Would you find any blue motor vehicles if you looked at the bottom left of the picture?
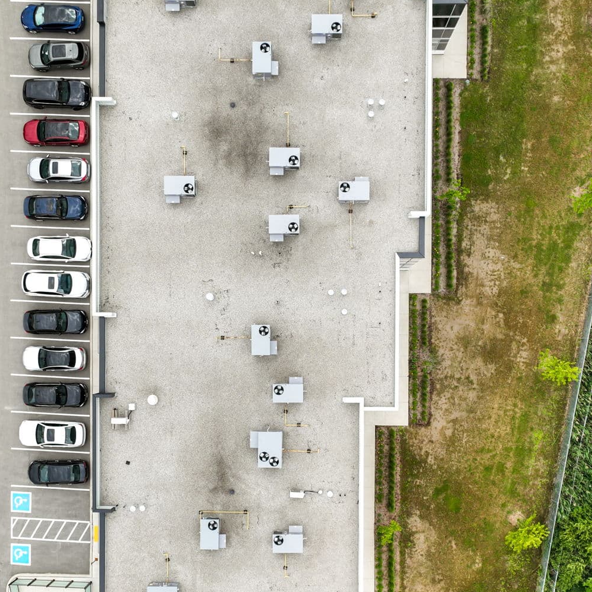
No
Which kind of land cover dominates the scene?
buildings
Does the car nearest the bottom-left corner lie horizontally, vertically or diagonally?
horizontally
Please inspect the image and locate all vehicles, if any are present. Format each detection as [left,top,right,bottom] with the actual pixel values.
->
[21,190,89,222]
[21,342,87,374]
[20,379,88,410]
[26,152,90,184]
[20,0,86,34]
[26,232,90,264]
[27,37,90,73]
[19,267,90,300]
[27,458,89,490]
[21,306,89,338]
[18,418,87,451]
[23,114,89,147]
[19,74,92,109]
